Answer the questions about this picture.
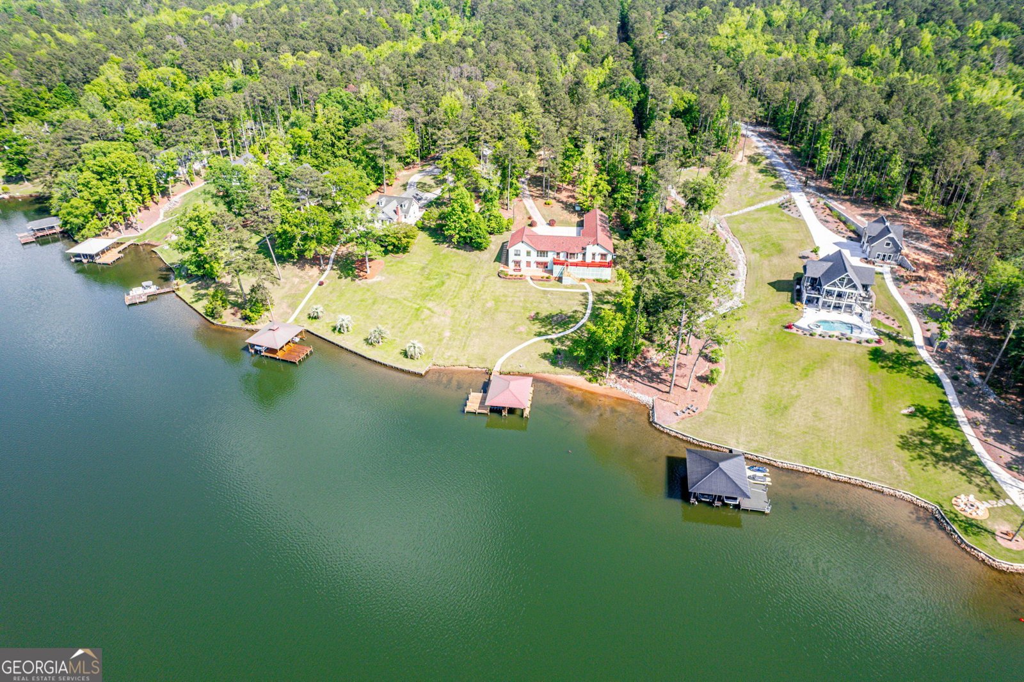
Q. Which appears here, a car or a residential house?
residential house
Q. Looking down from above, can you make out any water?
Yes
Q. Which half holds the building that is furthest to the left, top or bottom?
top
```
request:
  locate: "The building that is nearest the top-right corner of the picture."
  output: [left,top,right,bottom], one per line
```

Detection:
[860,215,910,261]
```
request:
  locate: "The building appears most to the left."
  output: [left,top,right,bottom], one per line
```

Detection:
[13,217,72,248]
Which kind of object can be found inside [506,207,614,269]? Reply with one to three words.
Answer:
house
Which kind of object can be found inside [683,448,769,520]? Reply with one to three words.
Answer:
building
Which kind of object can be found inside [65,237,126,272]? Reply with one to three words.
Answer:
building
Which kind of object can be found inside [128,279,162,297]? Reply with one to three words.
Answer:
boat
